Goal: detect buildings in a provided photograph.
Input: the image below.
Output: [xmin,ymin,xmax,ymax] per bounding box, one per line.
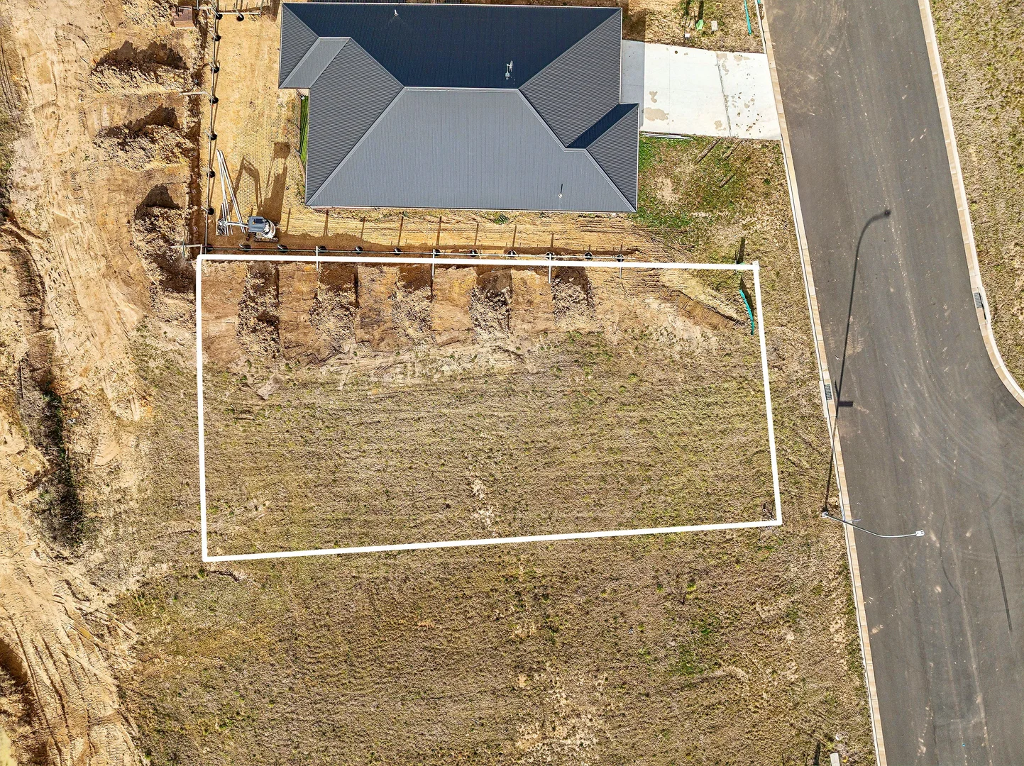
[278,2,640,214]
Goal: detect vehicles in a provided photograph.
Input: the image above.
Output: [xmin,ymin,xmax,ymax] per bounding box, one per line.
[214,216,280,243]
